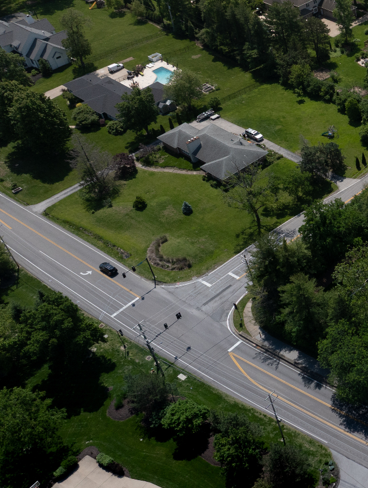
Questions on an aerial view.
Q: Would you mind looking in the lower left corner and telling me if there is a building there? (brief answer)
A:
No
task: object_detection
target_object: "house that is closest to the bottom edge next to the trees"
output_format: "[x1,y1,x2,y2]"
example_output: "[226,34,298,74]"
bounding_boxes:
[158,116,264,181]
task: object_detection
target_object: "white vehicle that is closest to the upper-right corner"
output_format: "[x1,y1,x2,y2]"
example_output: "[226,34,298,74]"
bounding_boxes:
[244,126,263,140]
